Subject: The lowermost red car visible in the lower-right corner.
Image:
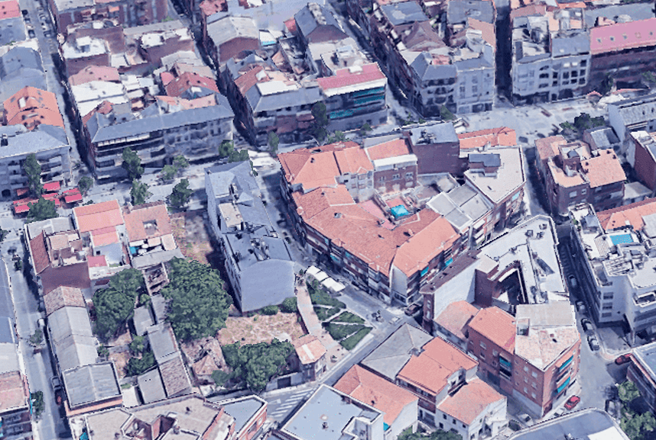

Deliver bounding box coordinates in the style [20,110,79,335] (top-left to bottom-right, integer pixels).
[565,397,580,410]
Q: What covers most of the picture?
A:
buildings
